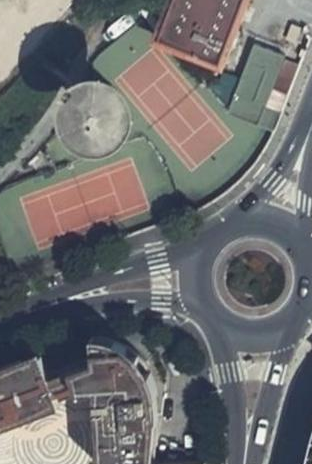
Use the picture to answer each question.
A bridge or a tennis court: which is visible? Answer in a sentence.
This aerial view contains a tennis court.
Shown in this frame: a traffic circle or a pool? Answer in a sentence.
Of the two, only a traffic circle appears.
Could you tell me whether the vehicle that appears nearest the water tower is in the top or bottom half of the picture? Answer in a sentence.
It is in the top half that the vehicle that appears nearest the water tower appears.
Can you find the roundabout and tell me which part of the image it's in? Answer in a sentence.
Look in the right portion of the view to spot the roundabout.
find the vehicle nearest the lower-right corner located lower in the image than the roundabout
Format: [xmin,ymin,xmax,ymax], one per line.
[255,418,268,445]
